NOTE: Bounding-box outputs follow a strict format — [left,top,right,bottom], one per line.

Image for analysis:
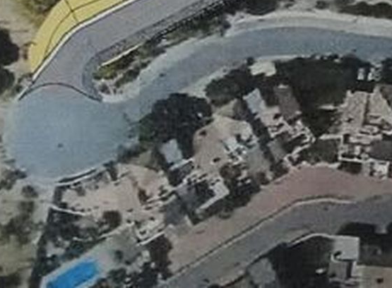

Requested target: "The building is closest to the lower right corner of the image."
[330,236,392,288]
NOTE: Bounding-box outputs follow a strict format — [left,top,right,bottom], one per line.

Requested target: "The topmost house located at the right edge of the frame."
[330,85,392,160]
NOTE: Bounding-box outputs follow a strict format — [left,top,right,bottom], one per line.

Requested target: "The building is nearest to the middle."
[161,99,267,207]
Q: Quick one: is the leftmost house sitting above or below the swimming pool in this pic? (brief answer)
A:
above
